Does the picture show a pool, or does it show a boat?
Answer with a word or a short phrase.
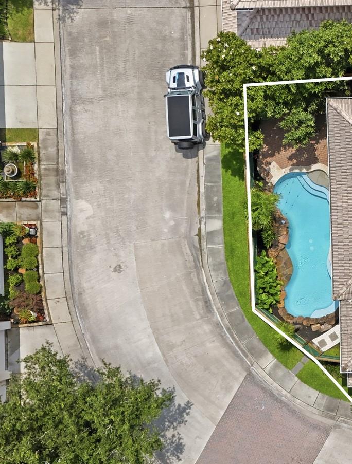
pool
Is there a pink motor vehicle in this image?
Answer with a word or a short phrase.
No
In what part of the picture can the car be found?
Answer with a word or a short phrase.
top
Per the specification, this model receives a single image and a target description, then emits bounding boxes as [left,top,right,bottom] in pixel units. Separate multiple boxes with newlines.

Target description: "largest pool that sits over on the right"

[269,160,340,318]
